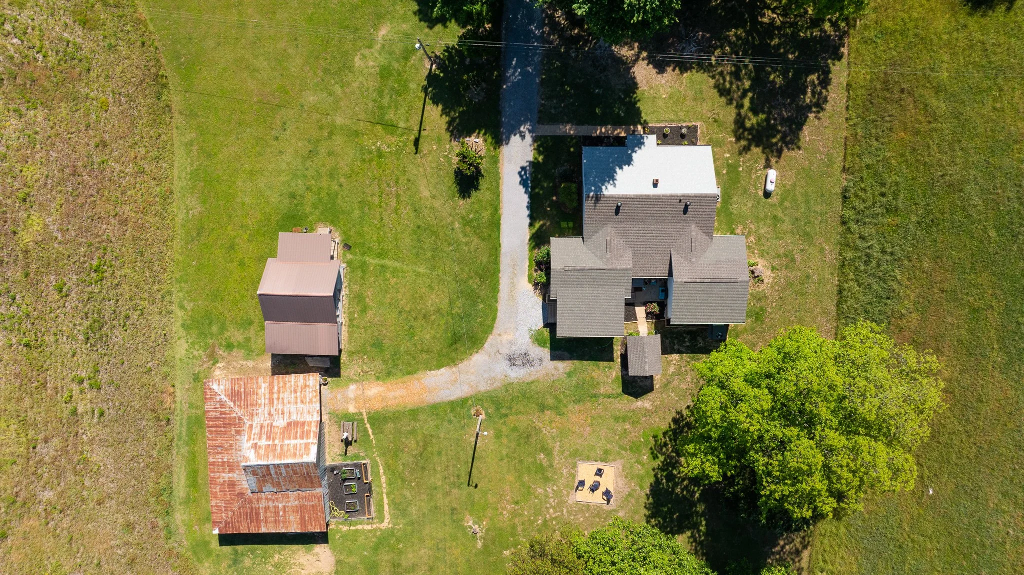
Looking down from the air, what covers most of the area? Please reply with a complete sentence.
For the most part, this view shows grass.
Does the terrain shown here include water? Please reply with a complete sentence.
No, water can't be seen anywhere here.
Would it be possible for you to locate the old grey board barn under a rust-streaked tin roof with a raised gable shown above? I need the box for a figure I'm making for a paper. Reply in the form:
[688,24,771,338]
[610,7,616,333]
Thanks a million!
[203,373,330,534]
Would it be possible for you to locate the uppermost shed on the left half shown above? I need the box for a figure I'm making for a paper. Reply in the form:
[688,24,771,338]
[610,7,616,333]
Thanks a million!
[257,232,348,356]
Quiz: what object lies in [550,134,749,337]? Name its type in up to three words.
house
